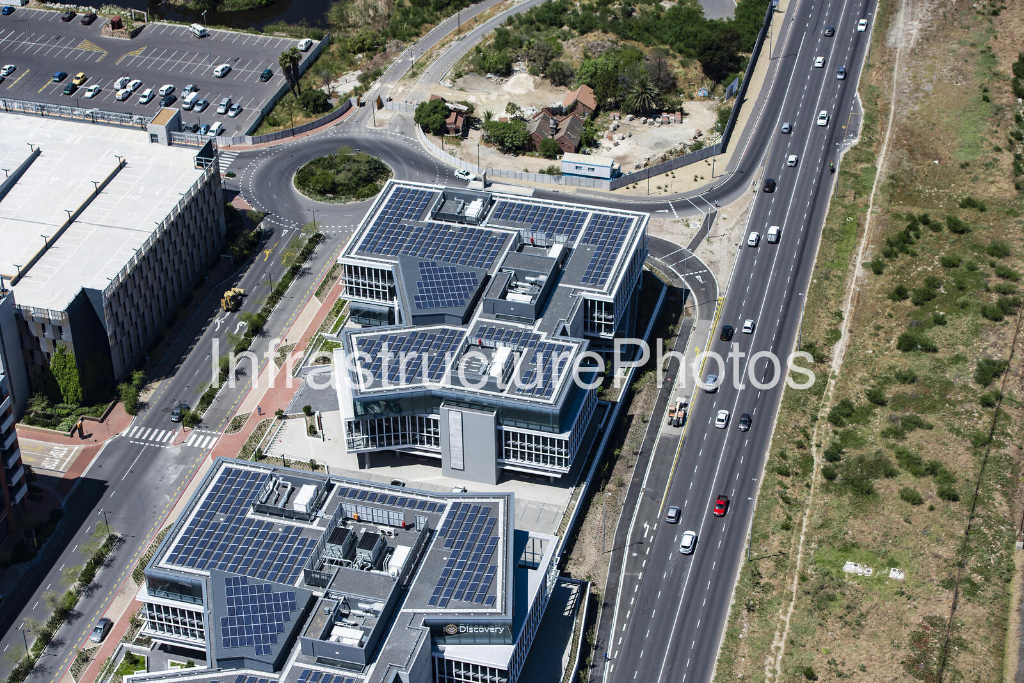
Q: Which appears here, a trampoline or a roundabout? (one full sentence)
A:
There is a roundabout in the scene.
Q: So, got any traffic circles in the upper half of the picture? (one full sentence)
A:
Yes, I can see a traffic circle in the upper half of the picture.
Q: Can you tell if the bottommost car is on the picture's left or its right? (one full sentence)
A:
The bottommost car is on the left side of the image.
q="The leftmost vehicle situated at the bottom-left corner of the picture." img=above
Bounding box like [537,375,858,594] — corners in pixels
[88,618,113,644]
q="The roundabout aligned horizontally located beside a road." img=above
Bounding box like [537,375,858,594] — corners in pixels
[236,128,450,234]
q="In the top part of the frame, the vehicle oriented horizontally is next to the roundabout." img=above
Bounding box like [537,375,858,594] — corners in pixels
[452,168,477,181]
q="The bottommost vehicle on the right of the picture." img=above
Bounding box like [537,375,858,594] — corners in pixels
[680,531,697,555]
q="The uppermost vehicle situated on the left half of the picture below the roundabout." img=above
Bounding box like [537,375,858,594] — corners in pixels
[221,286,249,309]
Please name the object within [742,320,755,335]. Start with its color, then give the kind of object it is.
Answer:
white vehicle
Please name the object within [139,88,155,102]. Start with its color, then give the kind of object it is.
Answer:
white car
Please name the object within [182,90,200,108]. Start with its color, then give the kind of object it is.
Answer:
white vehicle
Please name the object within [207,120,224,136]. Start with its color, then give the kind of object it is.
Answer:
white car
